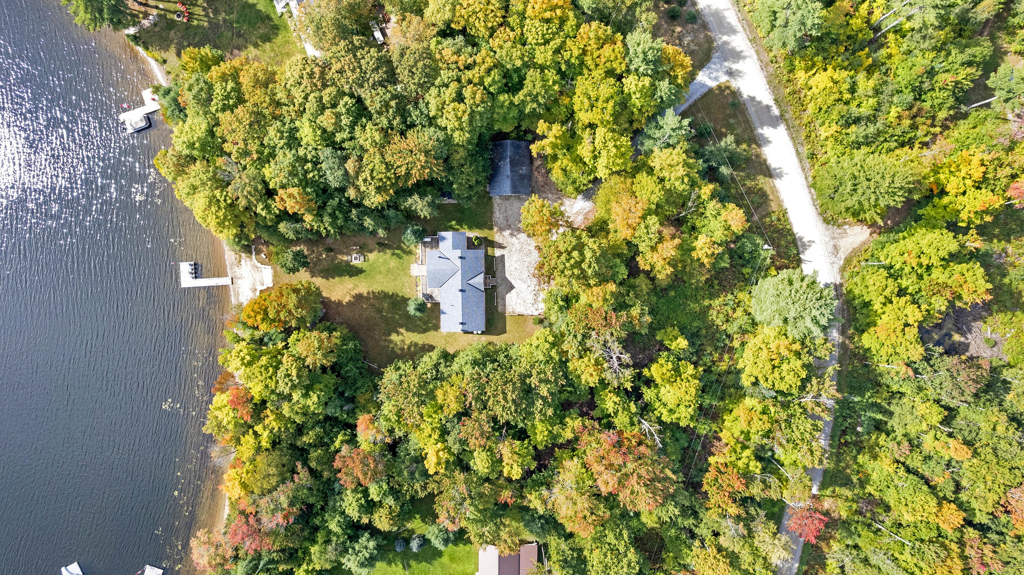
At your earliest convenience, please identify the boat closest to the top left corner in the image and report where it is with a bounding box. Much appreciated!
[120,114,154,135]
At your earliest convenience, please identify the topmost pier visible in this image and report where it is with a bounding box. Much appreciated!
[119,88,162,122]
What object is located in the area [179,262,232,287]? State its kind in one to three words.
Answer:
pier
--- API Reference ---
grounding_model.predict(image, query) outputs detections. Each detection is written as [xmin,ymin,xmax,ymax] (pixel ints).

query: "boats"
[61,560,86,575]
[120,114,154,135]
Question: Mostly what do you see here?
trees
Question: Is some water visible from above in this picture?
Yes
